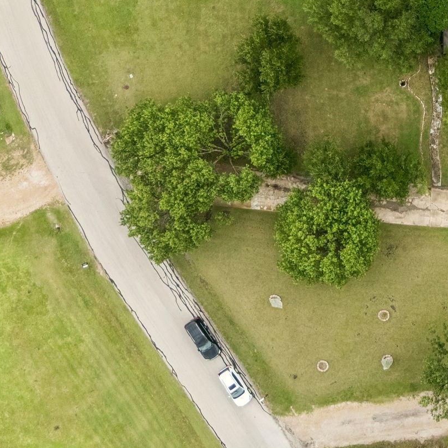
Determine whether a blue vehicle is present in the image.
No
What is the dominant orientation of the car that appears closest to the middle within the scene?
diagonally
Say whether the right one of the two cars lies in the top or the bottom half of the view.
bottom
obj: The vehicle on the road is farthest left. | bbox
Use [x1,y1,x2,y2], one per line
[183,316,221,359]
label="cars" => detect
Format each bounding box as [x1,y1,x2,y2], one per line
[183,316,221,359]
[217,363,250,406]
